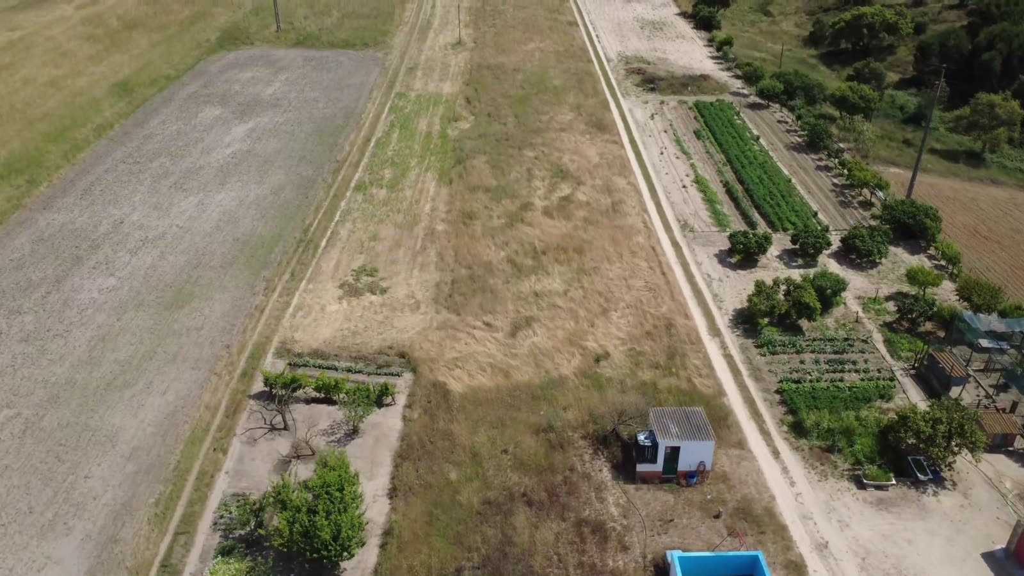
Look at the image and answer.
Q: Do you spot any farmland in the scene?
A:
Yes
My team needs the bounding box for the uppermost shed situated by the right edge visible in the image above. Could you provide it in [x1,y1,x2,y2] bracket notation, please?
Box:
[918,341,973,396]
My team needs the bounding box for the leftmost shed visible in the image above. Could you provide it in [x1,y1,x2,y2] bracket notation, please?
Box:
[633,403,719,486]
